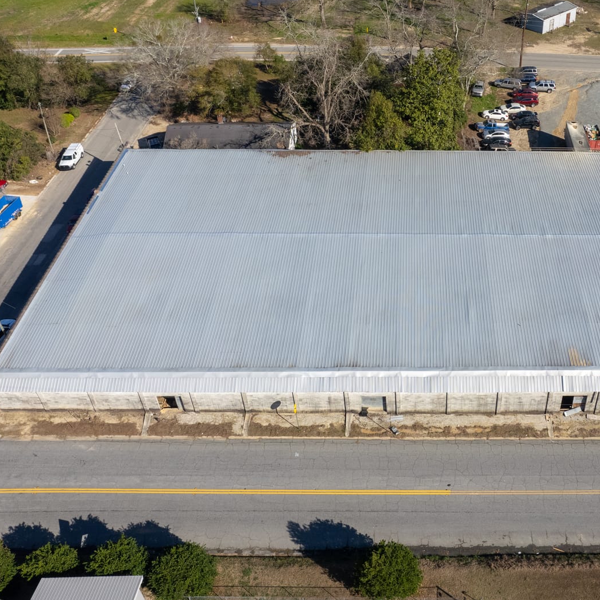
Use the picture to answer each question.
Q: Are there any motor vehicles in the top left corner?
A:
Yes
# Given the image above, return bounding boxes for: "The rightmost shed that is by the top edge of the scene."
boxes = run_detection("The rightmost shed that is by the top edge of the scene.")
[525,0,580,33]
